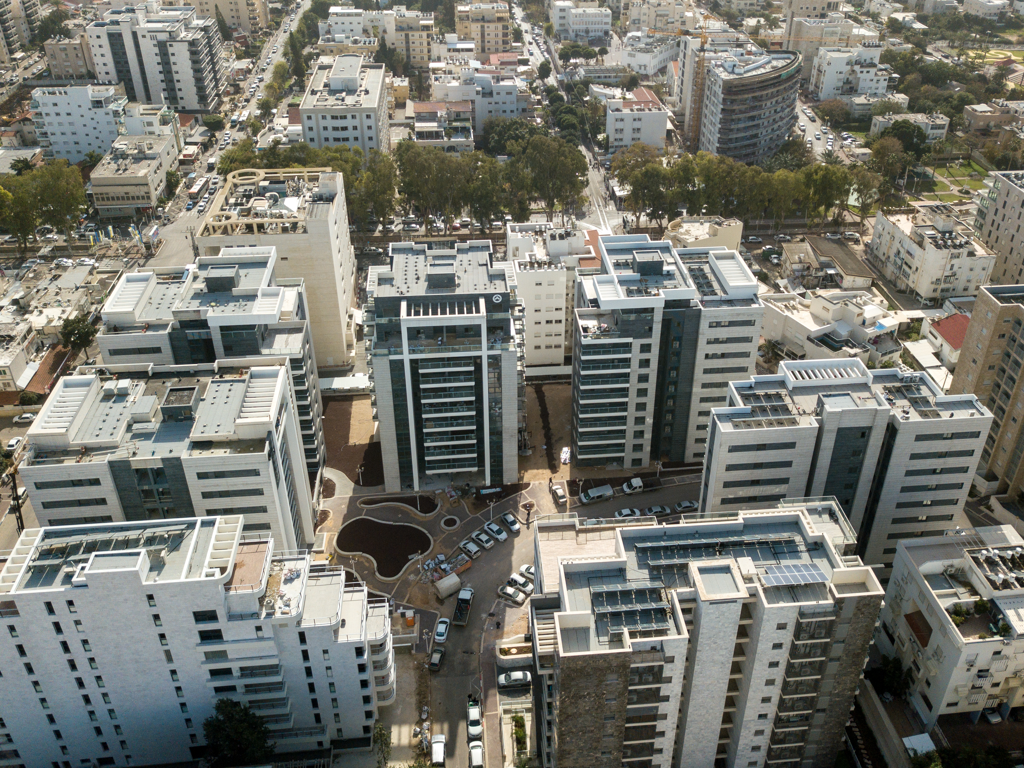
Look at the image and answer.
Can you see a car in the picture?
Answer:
Yes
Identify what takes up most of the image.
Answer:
buildings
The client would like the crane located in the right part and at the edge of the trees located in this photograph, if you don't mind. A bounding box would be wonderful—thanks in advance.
[661,13,862,146]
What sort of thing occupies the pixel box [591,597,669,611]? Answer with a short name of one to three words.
solar array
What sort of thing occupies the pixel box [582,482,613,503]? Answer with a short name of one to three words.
vehicle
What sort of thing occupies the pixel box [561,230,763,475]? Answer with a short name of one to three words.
building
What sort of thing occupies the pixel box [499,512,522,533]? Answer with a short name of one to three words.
car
